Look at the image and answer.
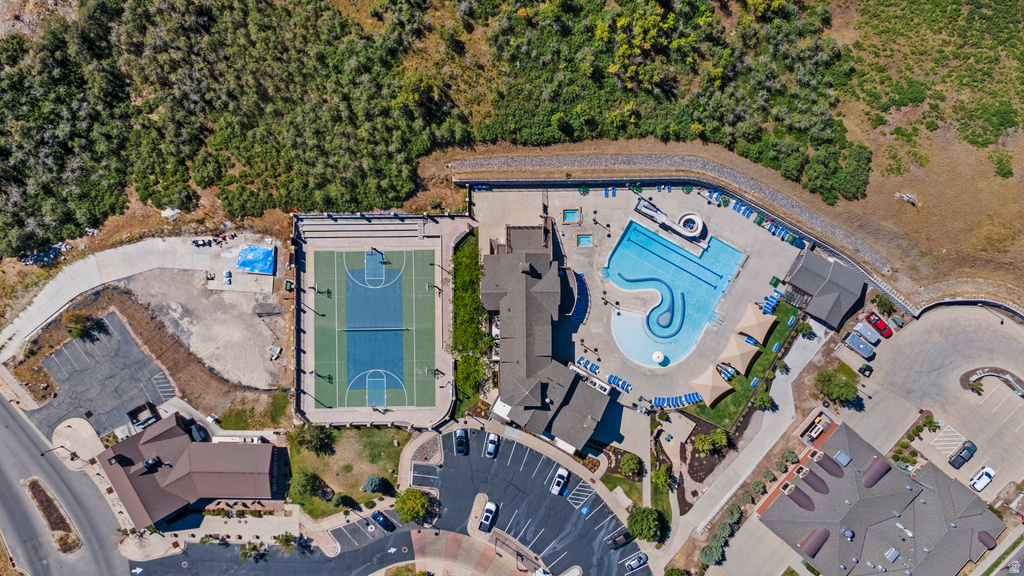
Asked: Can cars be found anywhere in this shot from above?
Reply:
Yes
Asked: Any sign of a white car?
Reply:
Yes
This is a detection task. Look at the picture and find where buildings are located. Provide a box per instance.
[539,380,610,455]
[760,422,1007,576]
[785,238,864,327]
[481,216,576,433]
[97,413,275,530]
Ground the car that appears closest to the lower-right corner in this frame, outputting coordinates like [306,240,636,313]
[968,466,993,492]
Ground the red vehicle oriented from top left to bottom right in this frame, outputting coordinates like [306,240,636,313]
[864,310,892,339]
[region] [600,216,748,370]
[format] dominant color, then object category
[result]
blue swimming pool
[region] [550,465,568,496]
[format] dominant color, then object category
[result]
white vehicle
